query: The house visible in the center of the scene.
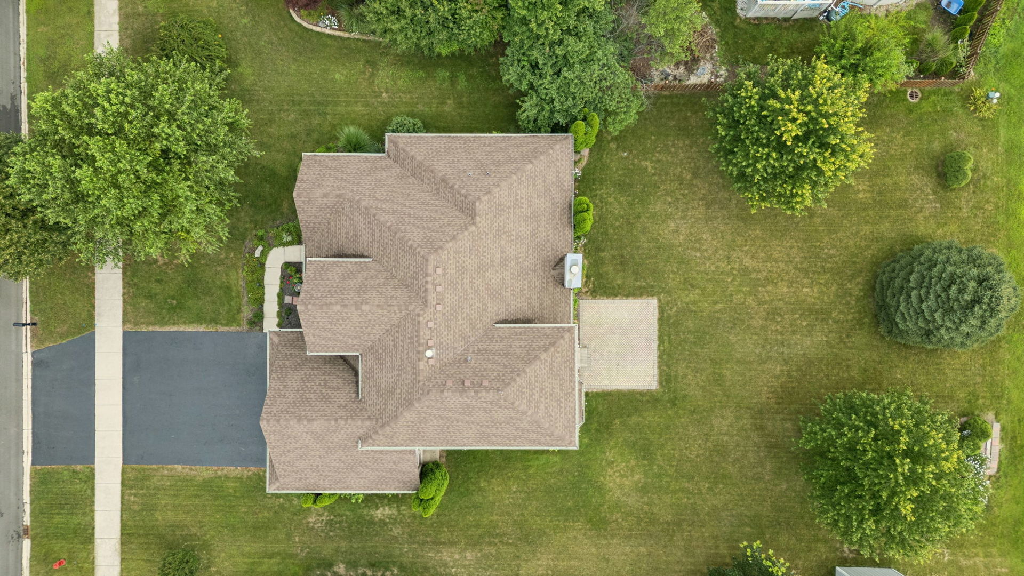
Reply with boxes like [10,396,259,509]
[261,133,585,493]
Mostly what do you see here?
grass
